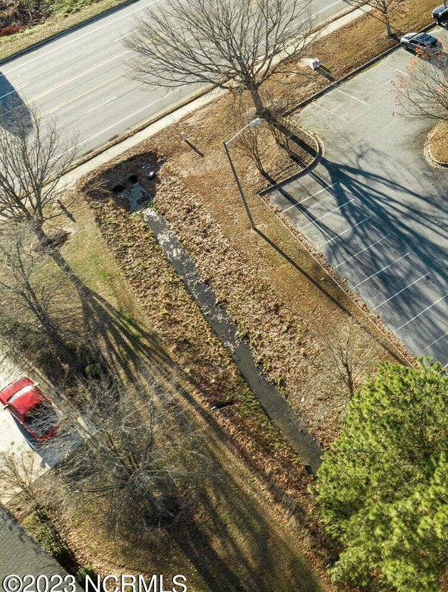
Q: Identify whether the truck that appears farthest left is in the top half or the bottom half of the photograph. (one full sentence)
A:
You can find the truck that appears farthest left in the bottom half.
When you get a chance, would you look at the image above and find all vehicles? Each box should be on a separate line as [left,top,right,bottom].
[0,377,71,448]
[397,30,446,56]
[430,4,448,24]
